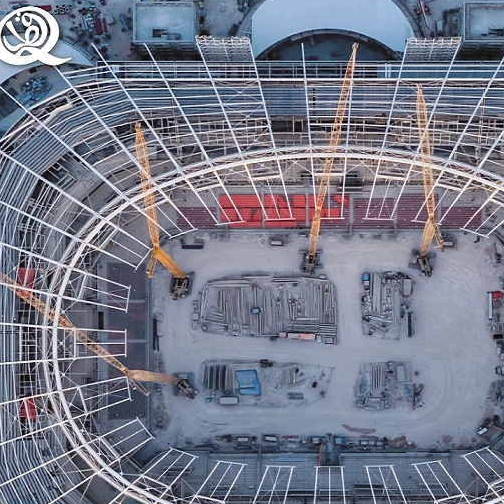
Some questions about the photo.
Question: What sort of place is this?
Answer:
sports ground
